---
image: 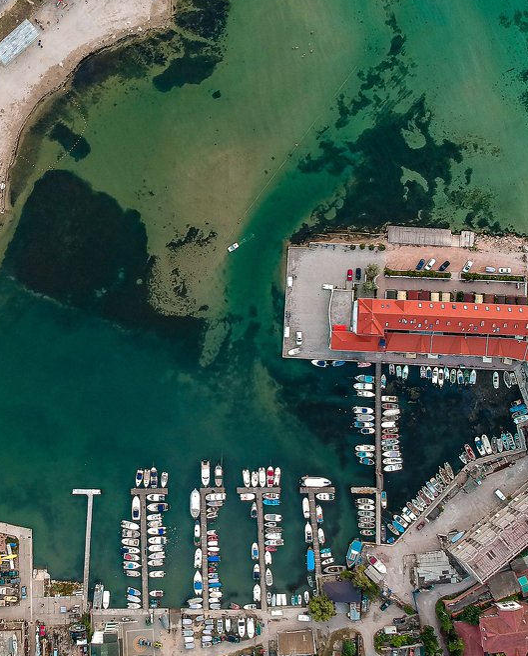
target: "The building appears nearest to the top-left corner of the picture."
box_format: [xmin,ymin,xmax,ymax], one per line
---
[0,20,39,68]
